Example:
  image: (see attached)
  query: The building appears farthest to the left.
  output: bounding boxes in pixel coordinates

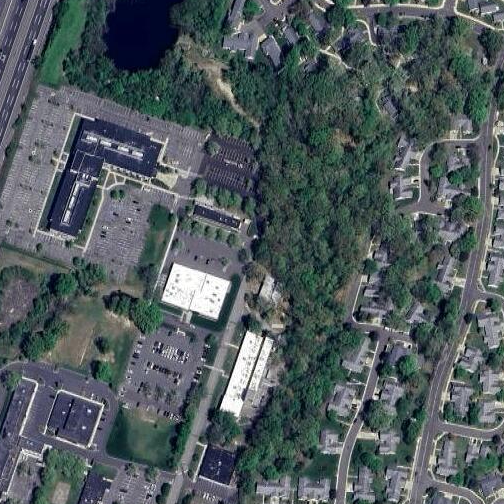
[0,381,46,499]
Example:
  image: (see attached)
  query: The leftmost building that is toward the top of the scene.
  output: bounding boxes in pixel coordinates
[49,117,164,240]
